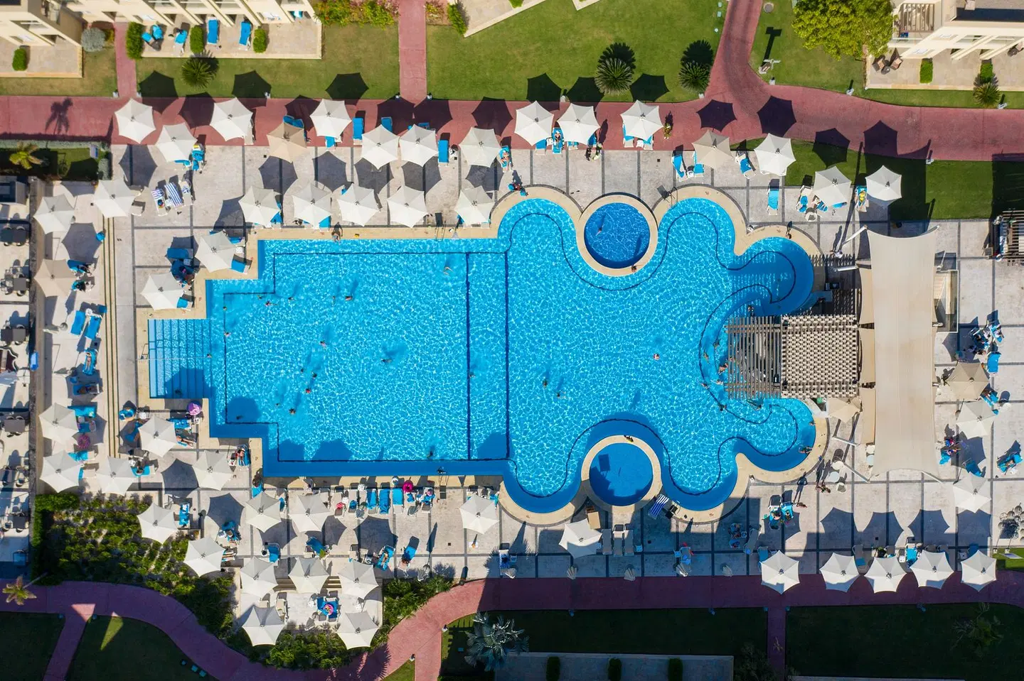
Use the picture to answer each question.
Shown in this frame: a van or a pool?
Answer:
pool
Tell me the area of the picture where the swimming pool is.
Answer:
center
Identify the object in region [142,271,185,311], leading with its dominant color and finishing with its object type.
white umbrella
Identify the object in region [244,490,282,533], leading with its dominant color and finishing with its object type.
white umbrella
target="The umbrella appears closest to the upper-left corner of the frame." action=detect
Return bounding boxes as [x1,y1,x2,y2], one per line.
[116,101,157,143]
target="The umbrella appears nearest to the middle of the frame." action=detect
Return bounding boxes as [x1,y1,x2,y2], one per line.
[455,186,496,227]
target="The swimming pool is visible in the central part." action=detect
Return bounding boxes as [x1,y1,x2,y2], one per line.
[149,198,815,513]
